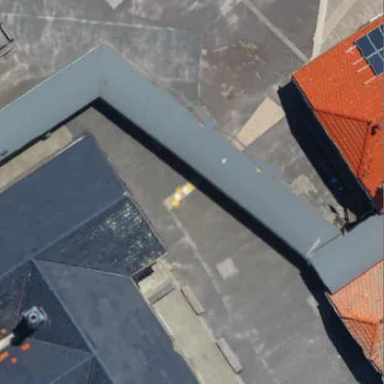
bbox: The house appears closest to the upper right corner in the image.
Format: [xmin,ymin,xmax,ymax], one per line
[291,19,384,209]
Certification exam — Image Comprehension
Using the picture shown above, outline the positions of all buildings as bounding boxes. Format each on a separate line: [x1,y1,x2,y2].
[326,258,384,382]
[291,19,384,209]
[0,137,203,384]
